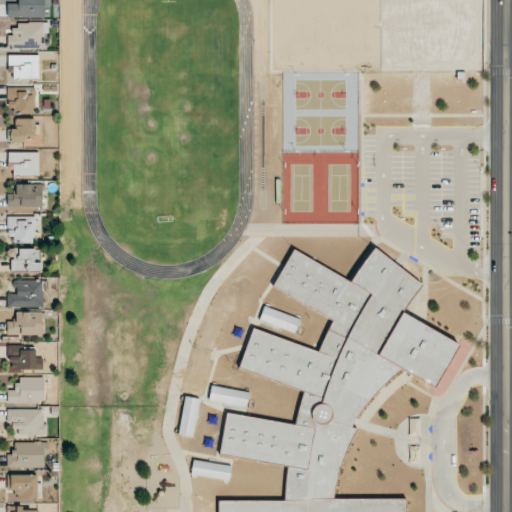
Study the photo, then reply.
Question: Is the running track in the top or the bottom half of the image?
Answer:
top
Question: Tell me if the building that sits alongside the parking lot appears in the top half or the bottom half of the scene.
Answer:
bottom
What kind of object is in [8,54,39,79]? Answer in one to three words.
house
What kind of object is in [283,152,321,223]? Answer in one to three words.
tennis court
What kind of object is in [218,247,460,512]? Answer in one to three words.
building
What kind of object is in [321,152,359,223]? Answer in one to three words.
tennis court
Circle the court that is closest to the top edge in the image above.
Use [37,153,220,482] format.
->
[283,72,359,113]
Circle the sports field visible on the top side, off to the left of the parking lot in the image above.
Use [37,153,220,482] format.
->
[97,0,239,265]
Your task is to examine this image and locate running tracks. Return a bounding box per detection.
[83,0,253,279]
